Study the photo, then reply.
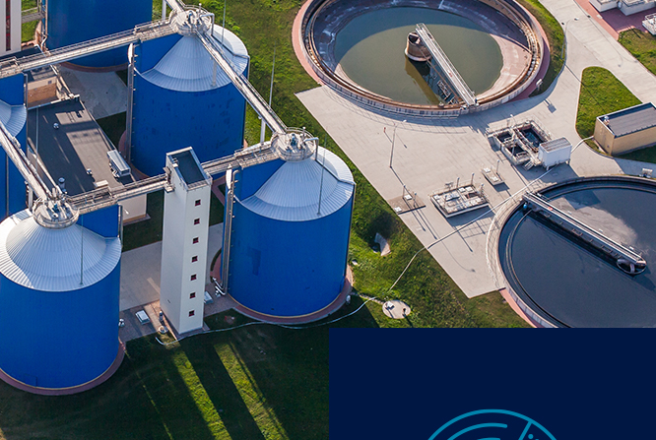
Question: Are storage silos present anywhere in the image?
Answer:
Yes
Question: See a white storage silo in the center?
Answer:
No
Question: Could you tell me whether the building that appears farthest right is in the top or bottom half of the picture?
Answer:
top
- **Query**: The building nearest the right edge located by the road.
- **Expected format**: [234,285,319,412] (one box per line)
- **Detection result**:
[588,100,656,156]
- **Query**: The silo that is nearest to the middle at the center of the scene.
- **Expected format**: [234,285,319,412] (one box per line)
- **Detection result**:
[216,126,357,322]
